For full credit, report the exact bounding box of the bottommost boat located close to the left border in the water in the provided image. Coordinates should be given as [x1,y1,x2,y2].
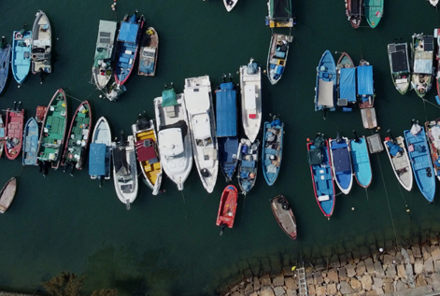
[0,177,18,214]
